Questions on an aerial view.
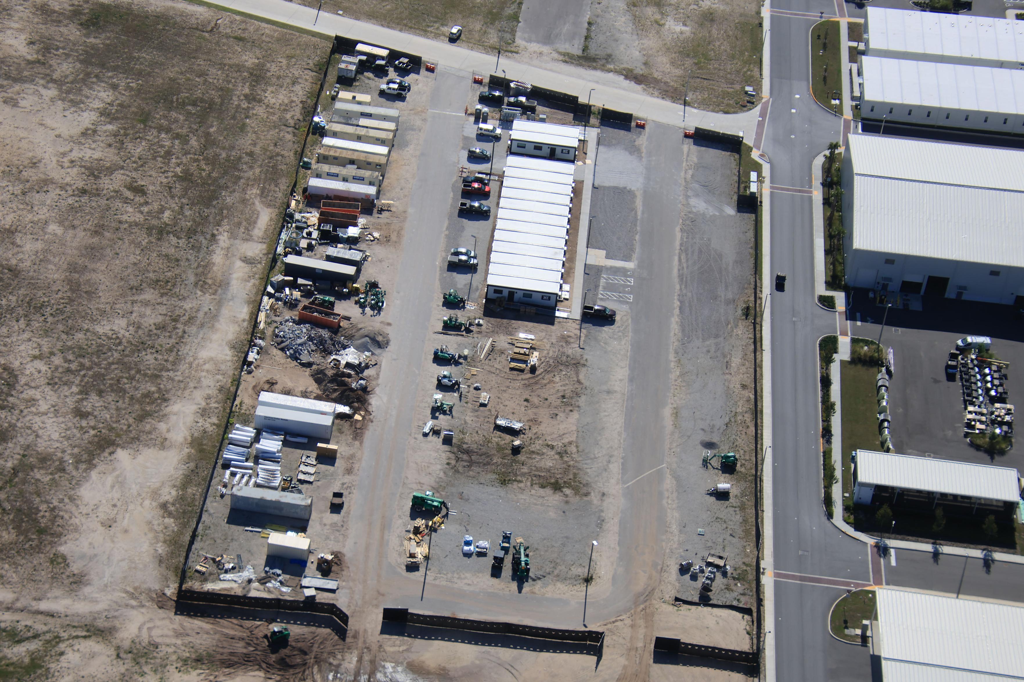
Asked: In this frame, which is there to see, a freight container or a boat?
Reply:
freight container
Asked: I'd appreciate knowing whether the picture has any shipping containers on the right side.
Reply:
No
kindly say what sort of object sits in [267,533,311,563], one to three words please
shipping container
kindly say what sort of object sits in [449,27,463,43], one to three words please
car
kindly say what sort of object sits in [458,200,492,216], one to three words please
vehicle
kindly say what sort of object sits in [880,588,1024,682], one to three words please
building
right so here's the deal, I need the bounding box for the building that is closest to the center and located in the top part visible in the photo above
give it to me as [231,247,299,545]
[486,156,582,309]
